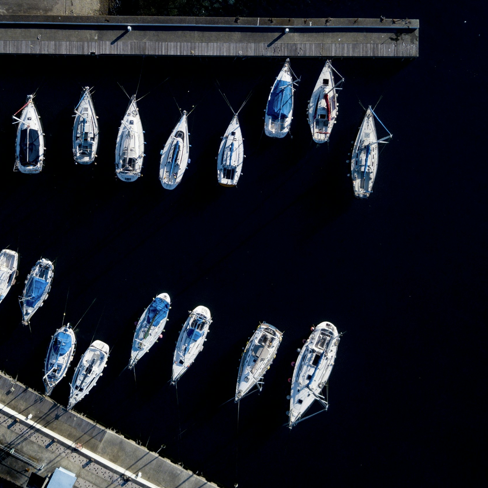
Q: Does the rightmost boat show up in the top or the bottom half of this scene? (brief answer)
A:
top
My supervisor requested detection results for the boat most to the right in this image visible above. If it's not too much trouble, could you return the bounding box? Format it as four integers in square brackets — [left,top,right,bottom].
[349,105,392,198]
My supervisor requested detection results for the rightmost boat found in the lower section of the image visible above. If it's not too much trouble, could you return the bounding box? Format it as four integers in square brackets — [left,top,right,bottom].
[283,318,339,429]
